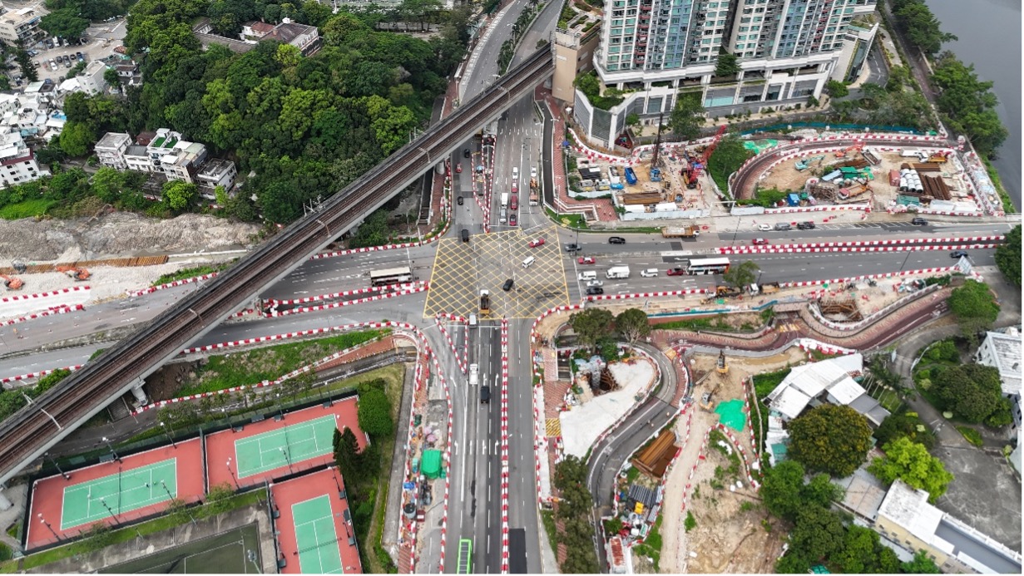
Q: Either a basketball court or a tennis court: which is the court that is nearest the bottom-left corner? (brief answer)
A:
tennis court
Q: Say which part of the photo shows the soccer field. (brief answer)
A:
bottom left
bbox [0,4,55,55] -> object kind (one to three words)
building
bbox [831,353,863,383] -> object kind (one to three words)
shed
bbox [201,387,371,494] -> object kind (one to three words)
tennis court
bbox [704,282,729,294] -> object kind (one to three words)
vehicle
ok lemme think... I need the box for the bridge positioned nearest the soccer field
[0,44,552,492]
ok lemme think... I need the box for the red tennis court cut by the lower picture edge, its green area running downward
[265,458,364,576]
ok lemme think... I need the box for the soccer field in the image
[98,523,264,576]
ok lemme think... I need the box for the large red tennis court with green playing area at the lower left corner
[16,428,206,551]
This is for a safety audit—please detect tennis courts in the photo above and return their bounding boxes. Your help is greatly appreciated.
[265,458,364,576]
[16,428,206,551]
[201,387,371,494]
